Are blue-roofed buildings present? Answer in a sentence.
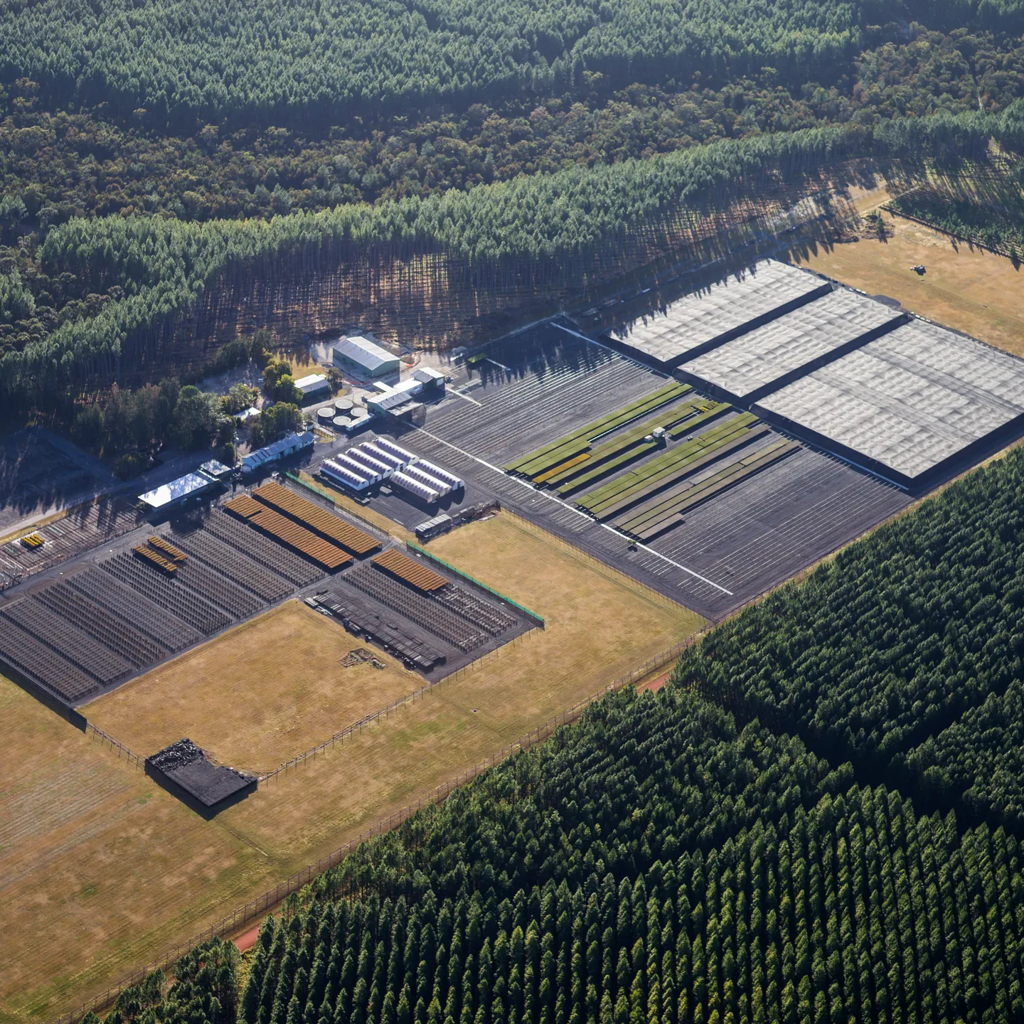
Yes, the picture does show a blue-roofed building.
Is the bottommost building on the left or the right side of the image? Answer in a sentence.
It is on the left.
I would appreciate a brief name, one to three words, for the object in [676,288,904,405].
house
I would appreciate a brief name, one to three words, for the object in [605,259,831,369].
house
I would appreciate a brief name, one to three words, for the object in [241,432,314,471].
building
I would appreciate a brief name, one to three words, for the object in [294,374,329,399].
shed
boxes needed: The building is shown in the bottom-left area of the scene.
[145,737,258,811]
